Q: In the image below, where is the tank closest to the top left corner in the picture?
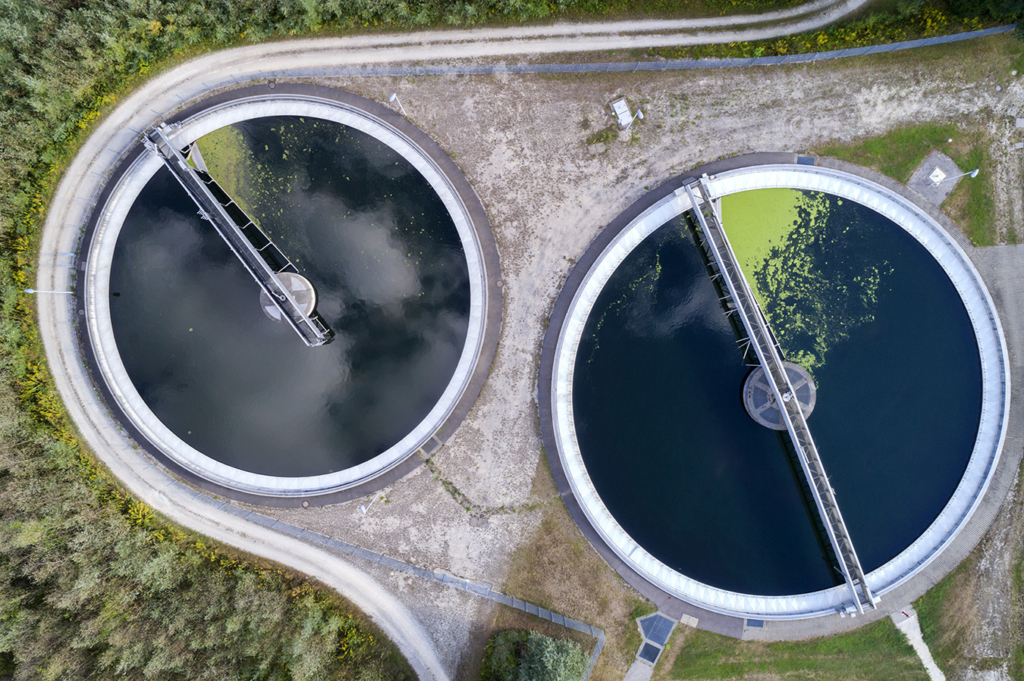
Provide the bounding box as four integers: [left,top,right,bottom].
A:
[84,91,488,495]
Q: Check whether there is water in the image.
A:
Yes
